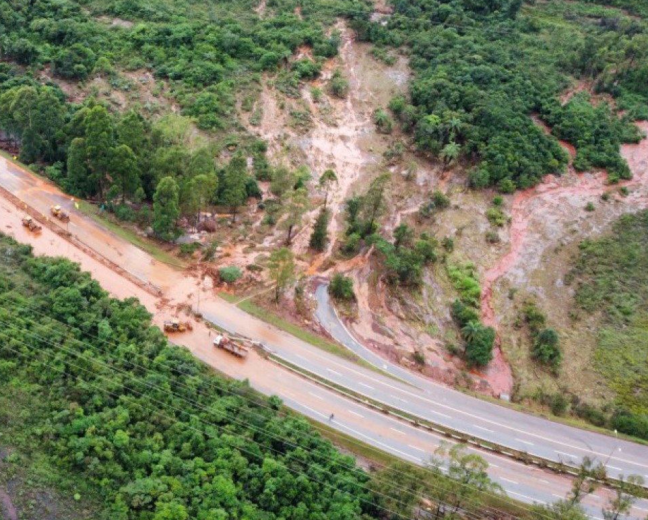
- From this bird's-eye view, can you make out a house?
No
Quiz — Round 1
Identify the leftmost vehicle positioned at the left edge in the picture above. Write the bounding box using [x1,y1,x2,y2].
[20,214,47,237]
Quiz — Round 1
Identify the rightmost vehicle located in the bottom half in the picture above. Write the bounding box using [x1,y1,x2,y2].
[212,333,248,357]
